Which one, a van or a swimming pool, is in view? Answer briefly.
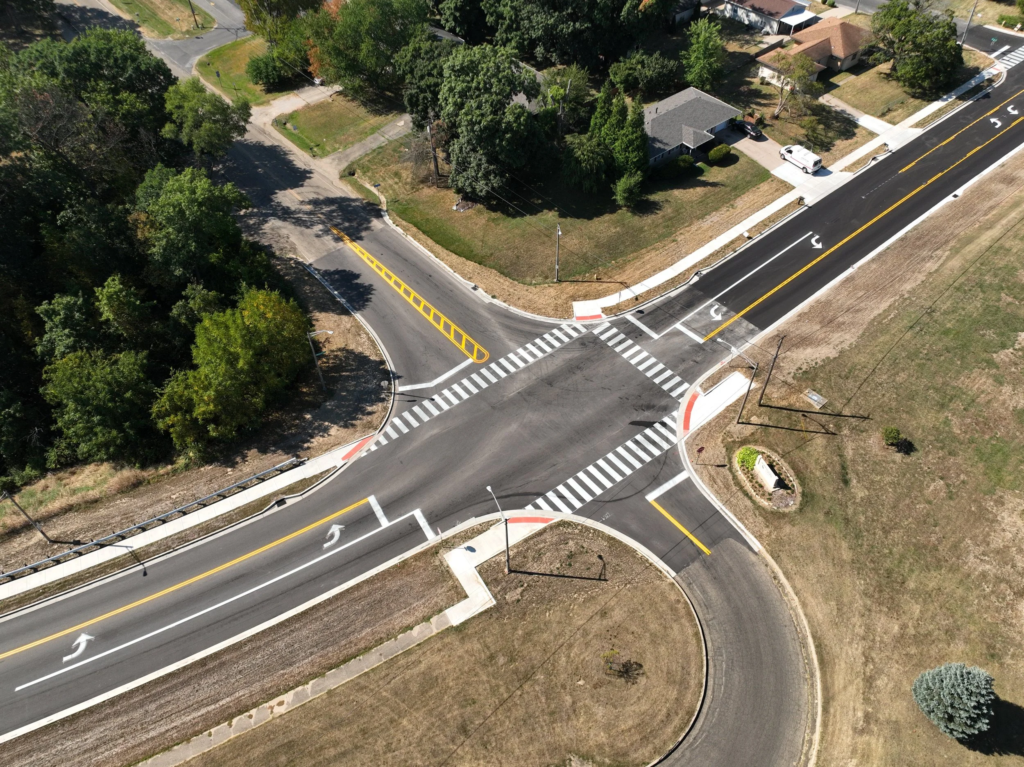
van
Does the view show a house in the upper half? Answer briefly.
Yes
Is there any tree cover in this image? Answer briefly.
Yes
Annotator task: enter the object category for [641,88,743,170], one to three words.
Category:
house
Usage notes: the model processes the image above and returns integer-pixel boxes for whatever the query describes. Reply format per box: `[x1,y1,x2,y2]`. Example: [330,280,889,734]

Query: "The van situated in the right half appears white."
[779,147,822,175]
